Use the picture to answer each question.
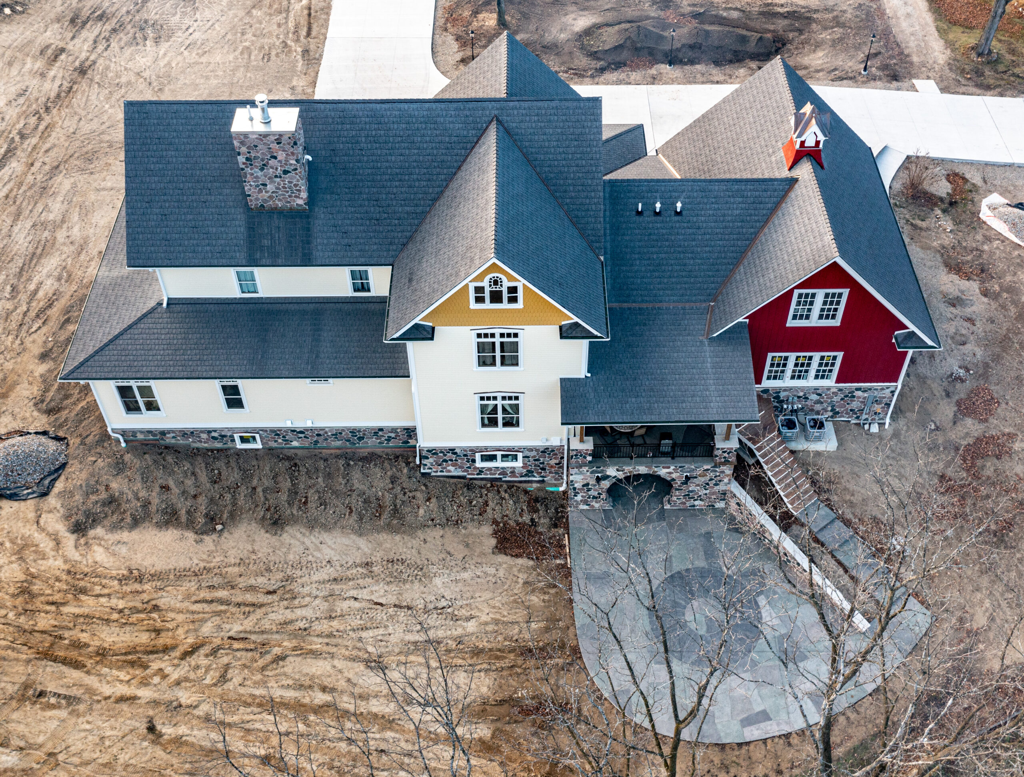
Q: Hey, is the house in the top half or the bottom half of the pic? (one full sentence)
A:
The top half of the photo is where the house is.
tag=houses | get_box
[53,30,947,509]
